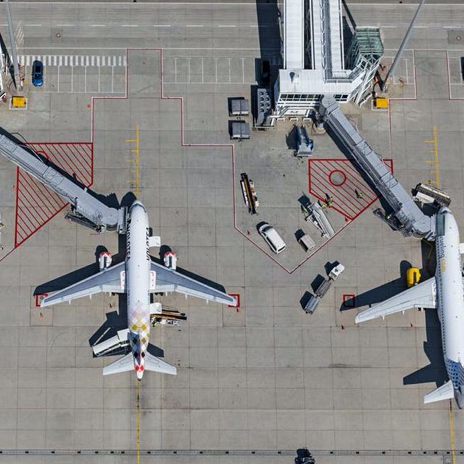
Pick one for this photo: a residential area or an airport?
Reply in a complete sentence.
What you see here is an airport.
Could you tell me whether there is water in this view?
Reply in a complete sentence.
No, no water is visible.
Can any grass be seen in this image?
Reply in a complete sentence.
No, there is no grass in the image.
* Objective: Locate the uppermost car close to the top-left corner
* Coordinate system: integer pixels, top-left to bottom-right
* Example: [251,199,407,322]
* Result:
[32,62,44,86]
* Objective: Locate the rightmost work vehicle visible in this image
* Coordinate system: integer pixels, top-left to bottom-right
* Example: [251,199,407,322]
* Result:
[416,183,451,208]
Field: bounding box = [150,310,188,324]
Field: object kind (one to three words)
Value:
vehicle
